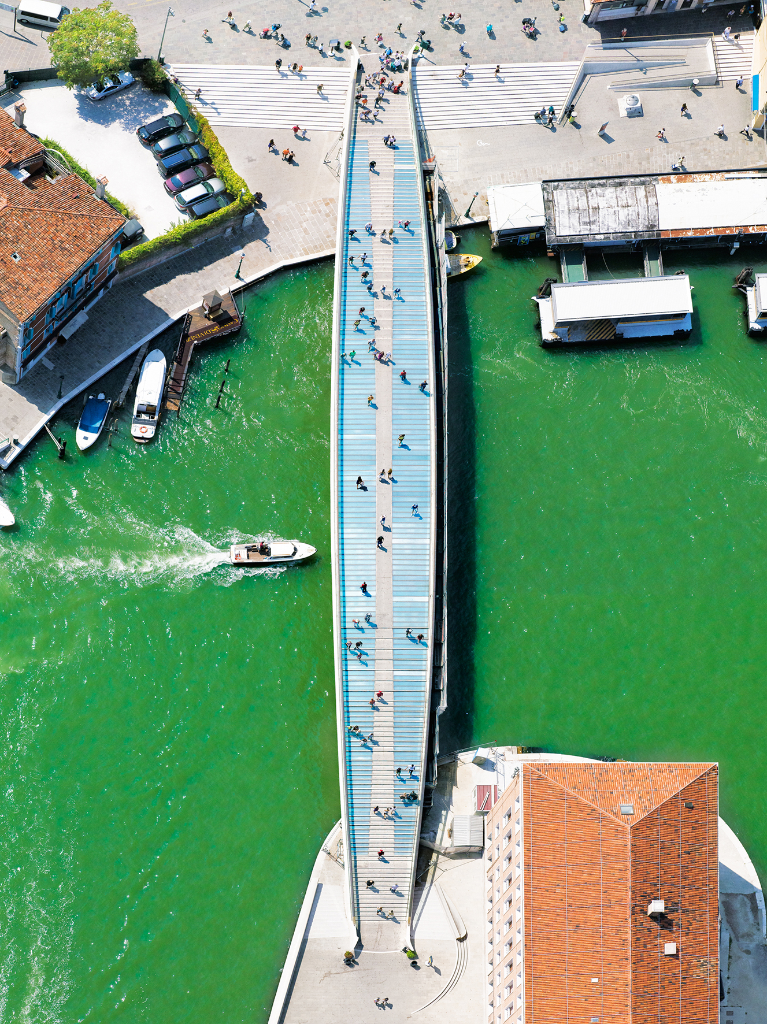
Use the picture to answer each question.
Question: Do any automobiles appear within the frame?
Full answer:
Yes, the picture does show an automobile.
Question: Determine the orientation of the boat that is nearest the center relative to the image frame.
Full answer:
The boat that is nearest the center is laid out from left to right.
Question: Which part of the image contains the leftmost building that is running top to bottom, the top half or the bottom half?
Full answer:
It is in the top half that the leftmost building that is running top to bottom appears.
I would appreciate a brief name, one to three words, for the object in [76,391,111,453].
boat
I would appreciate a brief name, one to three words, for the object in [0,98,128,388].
building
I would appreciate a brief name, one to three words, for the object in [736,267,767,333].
pier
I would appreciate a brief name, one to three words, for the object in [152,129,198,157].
car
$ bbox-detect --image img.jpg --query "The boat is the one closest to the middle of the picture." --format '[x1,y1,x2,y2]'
[229,541,319,566]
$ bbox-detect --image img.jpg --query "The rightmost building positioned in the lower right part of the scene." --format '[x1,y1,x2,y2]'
[491,761,722,1024]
